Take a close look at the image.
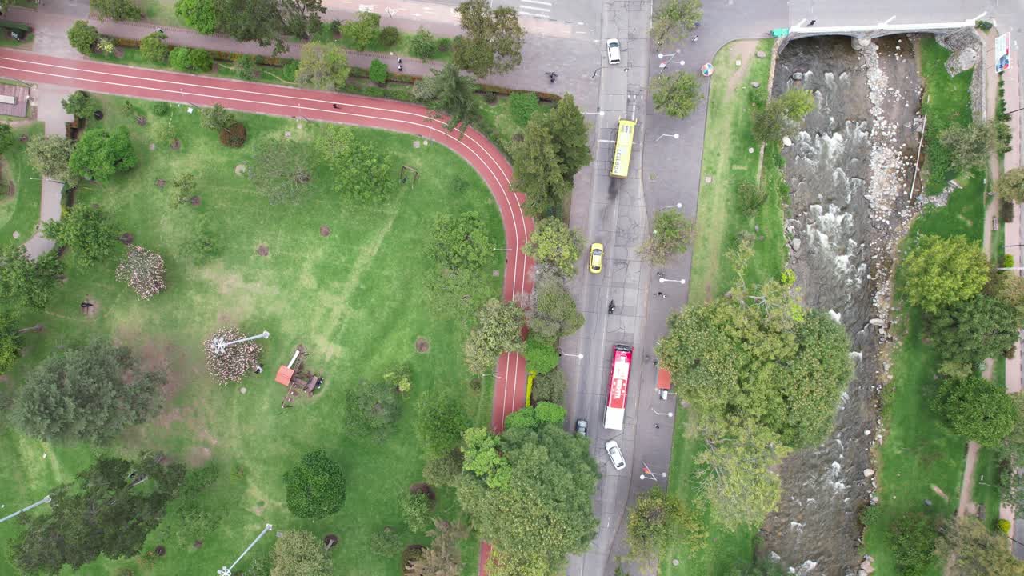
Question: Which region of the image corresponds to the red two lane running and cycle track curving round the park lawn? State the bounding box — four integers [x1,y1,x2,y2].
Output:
[0,48,534,576]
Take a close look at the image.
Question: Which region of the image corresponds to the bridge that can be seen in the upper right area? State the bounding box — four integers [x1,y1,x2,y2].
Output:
[776,10,998,49]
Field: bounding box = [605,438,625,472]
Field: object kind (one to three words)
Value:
car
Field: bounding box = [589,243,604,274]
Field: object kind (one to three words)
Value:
car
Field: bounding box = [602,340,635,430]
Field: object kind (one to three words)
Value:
bus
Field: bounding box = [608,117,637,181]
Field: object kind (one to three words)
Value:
bus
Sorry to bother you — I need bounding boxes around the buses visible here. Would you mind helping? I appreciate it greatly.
[602,340,635,430]
[608,117,637,181]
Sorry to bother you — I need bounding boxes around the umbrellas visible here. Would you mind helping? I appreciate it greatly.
[700,62,714,76]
